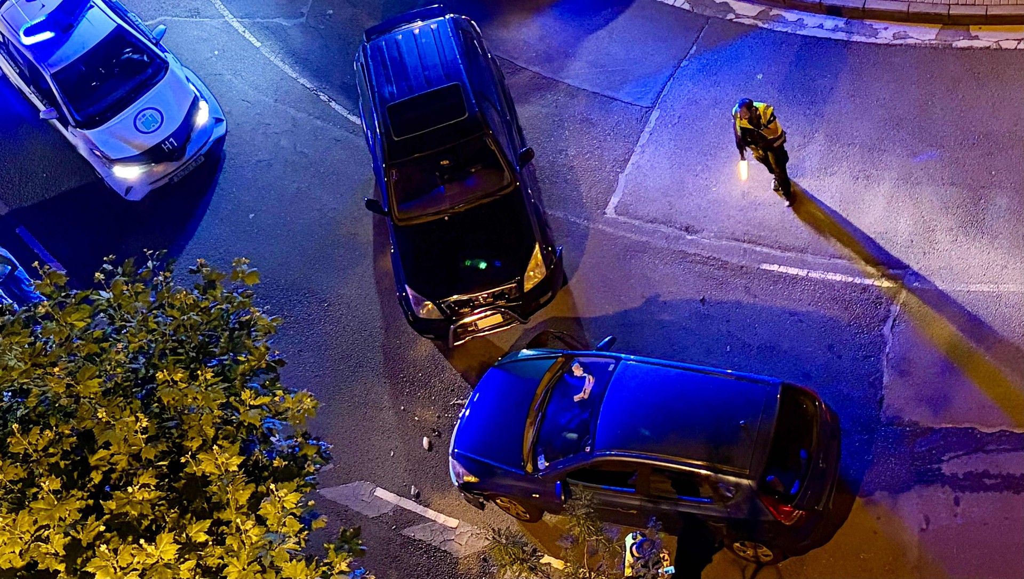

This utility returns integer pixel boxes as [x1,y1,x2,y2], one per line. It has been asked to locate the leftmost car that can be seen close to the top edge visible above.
[0,0,227,202]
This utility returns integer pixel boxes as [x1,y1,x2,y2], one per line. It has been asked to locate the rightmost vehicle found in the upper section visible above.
[358,0,561,353]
